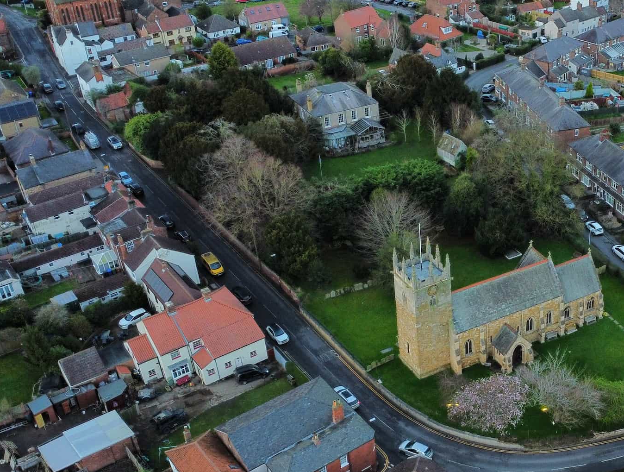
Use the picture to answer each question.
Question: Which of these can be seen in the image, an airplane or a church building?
church building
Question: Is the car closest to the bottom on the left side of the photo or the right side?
right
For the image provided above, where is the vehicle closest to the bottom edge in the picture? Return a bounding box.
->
[397,440,437,462]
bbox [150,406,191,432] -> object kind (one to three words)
car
